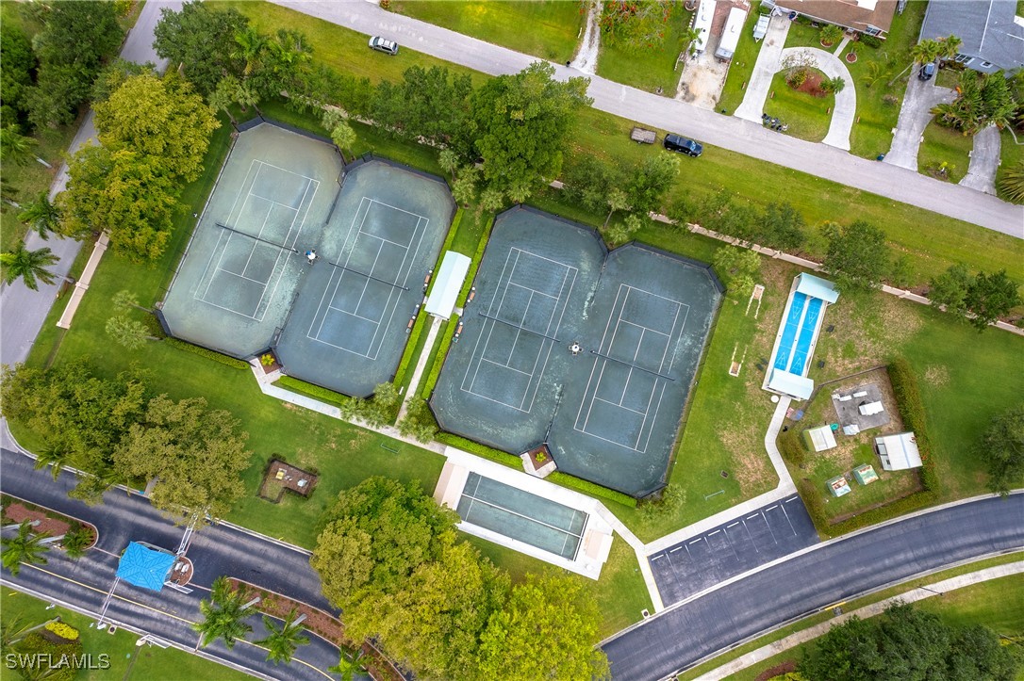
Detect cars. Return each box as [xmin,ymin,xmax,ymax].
[665,132,701,155]
[369,34,401,54]
[918,60,937,83]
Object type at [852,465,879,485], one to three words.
shed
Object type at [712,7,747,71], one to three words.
trailer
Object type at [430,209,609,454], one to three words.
tennis court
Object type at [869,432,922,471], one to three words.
shed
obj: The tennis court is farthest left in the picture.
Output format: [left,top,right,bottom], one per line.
[162,123,347,357]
